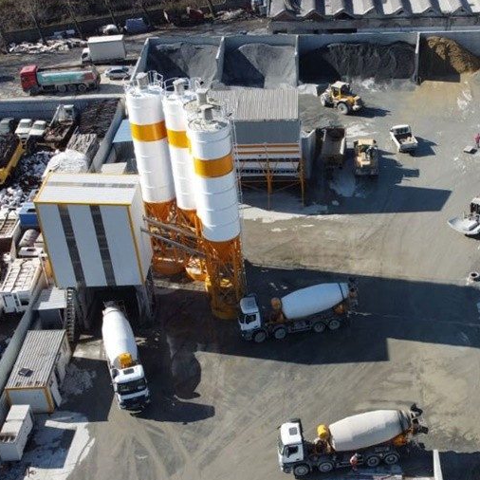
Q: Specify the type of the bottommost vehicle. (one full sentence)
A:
From above, the bottommost vehicle can be identified as a truck.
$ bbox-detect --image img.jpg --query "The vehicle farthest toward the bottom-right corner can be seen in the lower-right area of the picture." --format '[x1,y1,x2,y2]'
[280,415,429,478]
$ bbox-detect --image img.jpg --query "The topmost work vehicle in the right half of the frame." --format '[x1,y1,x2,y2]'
[308,77,369,114]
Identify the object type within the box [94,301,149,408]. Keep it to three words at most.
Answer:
truck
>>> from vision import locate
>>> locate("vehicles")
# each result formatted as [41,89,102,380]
[391,128,418,154]
[24,121,49,141]
[280,415,429,478]
[11,119,34,139]
[19,68,95,96]
[308,77,369,114]
[437,198,480,247]
[33,100,78,151]
[0,116,18,140]
[351,135,380,177]
[68,31,134,65]
[94,301,149,408]
[239,279,361,338]
[316,123,345,175]
[100,62,132,76]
